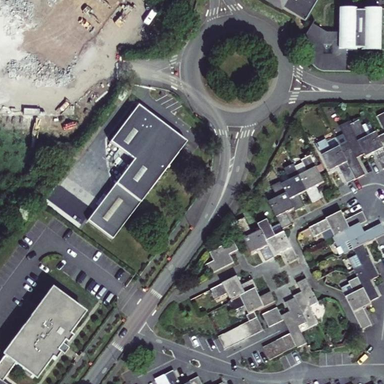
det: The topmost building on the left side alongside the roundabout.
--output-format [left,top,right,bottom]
[48,104,188,242]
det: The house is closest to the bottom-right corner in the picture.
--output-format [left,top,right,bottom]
[346,288,372,330]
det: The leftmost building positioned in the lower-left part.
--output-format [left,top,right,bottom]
[0,286,88,381]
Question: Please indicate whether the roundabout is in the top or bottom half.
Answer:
top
